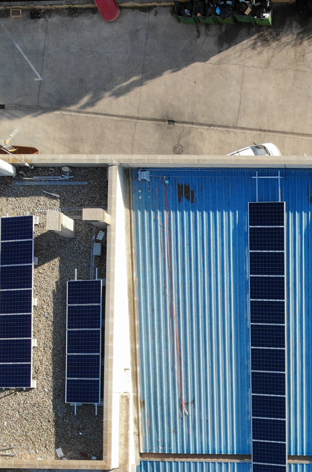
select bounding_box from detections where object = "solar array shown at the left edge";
[0,213,39,391]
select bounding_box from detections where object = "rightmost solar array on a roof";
[247,169,289,472]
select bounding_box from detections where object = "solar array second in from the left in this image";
[65,268,105,414]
